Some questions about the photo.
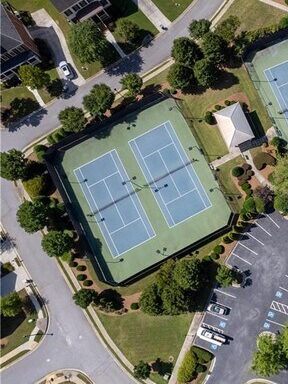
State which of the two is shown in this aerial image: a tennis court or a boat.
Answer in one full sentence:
Looking from above, you can make out a tennis court.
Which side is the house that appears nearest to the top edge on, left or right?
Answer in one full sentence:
The house that appears nearest to the top edge is on the left side of the image.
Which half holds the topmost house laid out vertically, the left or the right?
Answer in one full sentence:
The topmost house laid out vertically sits on the left side.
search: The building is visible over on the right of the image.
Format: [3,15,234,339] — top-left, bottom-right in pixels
[213,102,255,152]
